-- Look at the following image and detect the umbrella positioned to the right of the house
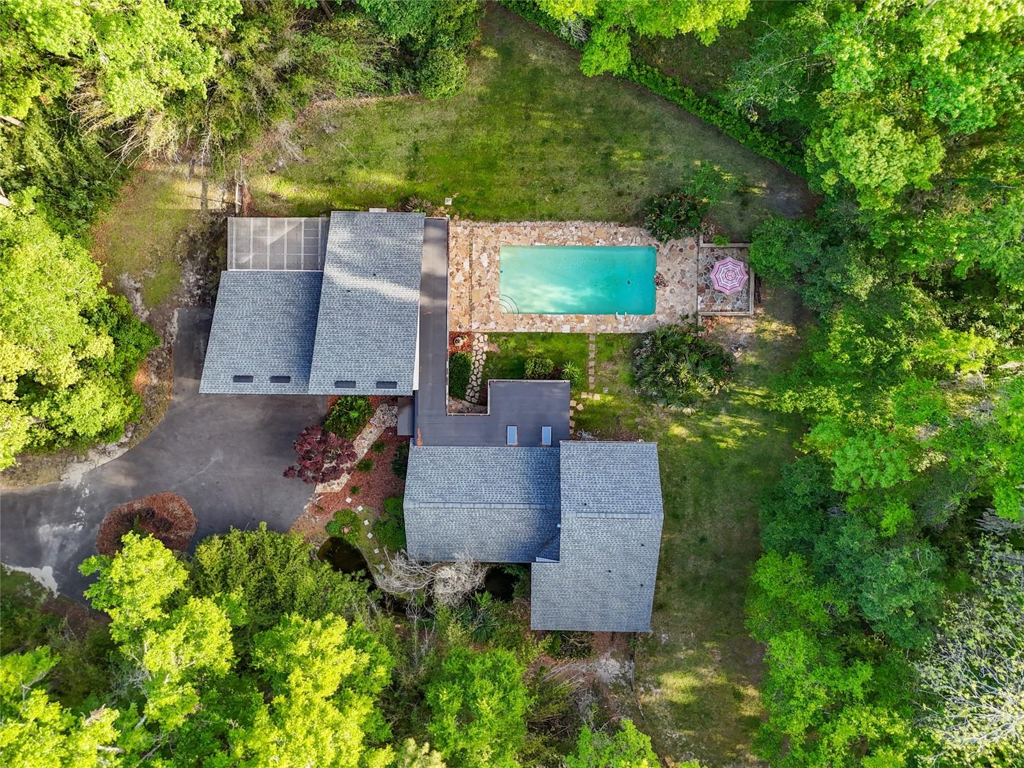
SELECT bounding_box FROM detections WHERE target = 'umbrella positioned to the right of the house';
[708,257,745,294]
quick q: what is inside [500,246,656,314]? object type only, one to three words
swimming pool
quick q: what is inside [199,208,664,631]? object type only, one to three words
house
